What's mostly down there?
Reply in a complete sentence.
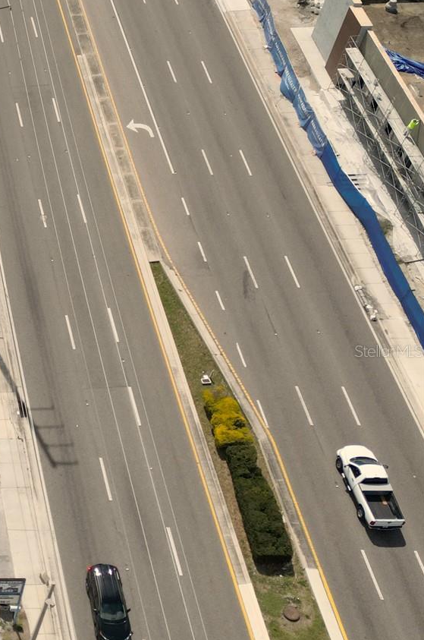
What you mostly see from above here is paved ground.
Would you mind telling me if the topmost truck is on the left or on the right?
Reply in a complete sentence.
The topmost truck appears in the right half of the scene.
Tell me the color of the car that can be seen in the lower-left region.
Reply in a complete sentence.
In this view, the car that can be seen in the lower-left region is black.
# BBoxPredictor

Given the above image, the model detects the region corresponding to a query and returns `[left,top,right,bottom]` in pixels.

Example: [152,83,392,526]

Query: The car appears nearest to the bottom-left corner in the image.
[84,563,133,640]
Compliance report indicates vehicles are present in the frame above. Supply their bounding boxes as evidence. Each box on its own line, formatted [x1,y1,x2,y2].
[84,563,133,640]
[340,447,407,533]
